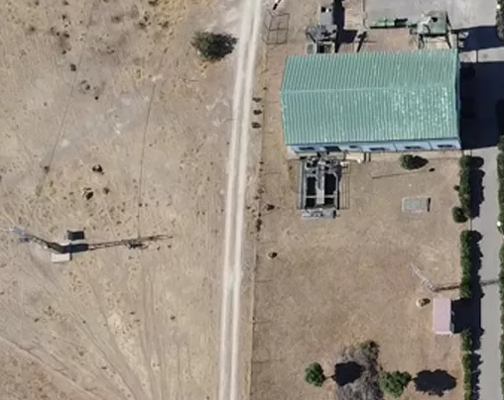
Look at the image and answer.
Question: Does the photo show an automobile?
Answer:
No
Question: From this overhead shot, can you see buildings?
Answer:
Yes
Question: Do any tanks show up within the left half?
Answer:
No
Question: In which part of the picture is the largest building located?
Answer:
top right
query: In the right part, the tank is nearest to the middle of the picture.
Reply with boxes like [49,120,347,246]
[299,153,341,222]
